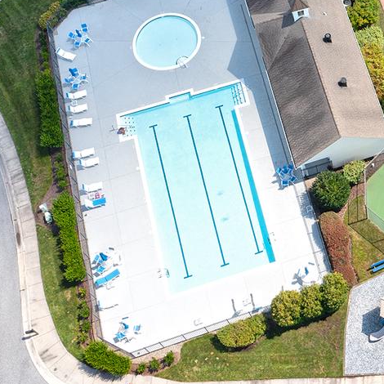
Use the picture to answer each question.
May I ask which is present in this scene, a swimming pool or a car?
swimming pool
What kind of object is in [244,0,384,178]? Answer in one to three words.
building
